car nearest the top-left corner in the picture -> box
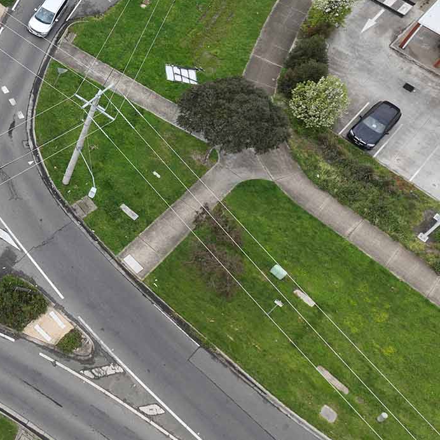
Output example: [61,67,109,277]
[29,0,70,38]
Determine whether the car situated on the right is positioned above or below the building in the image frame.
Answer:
below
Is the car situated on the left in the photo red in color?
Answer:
No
